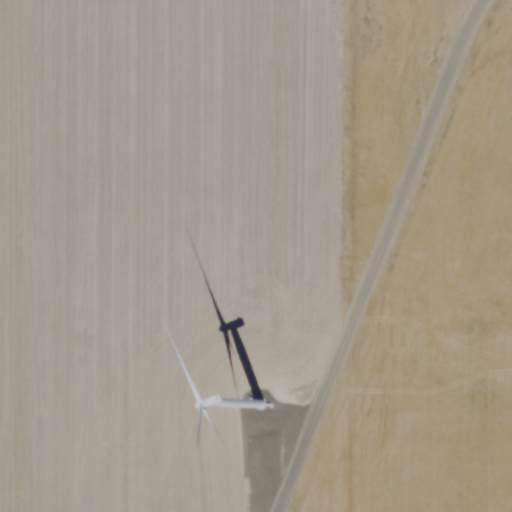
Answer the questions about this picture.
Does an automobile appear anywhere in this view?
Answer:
No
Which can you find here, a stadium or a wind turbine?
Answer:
wind turbine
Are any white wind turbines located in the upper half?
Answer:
No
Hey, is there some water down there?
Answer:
No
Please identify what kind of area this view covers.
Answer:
farmland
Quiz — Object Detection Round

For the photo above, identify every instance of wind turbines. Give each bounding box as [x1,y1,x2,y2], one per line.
[162,314,268,453]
